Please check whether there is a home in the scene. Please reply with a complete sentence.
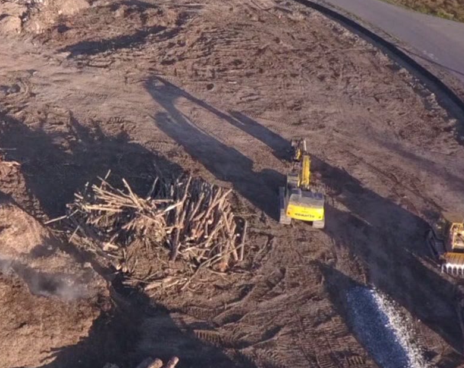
No, no home can be seen from above.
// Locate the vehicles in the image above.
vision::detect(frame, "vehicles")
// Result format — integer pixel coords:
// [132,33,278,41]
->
[434,210,464,280]
[279,123,331,227]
